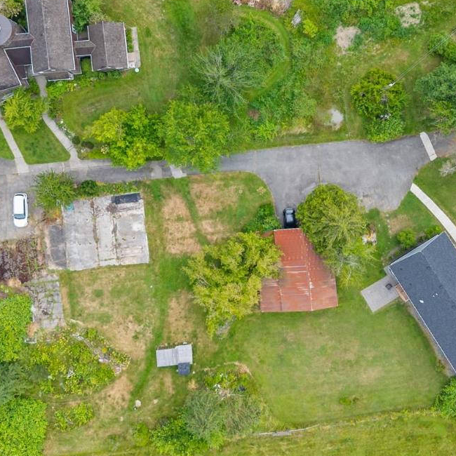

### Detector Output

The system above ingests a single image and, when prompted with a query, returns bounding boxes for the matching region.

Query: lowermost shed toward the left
[157,344,193,368]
